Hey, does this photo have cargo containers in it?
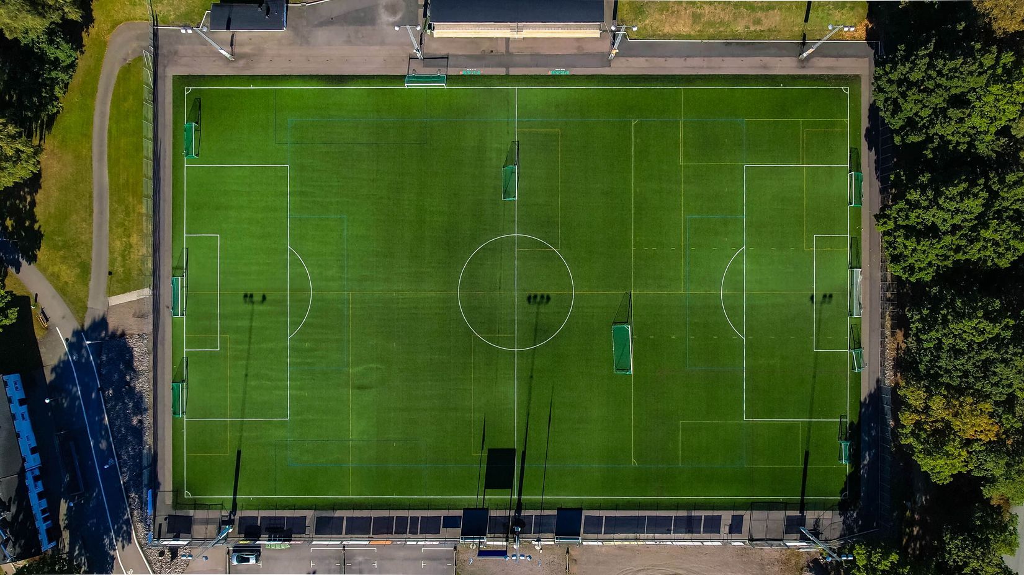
No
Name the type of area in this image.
sports ground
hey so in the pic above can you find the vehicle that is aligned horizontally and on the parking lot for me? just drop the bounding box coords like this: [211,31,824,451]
[230,552,261,566]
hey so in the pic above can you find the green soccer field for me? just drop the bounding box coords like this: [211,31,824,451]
[172,75,861,510]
